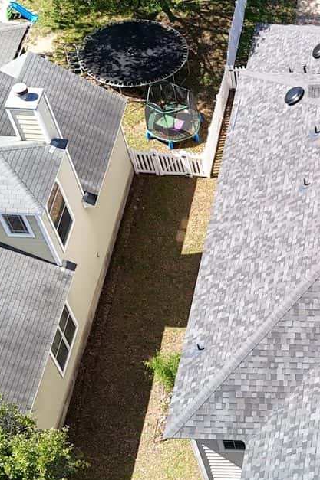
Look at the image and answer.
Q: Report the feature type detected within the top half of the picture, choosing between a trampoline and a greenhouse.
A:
trampoline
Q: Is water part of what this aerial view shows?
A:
No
